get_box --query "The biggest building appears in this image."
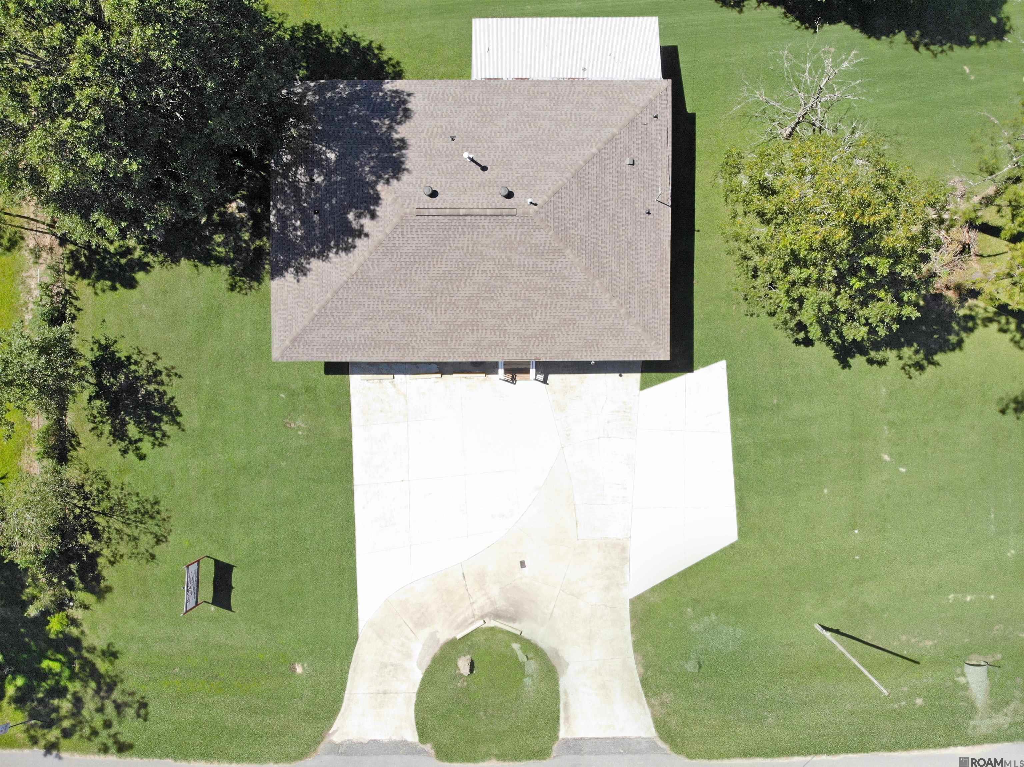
[269,77,673,363]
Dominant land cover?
grass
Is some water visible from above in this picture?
No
